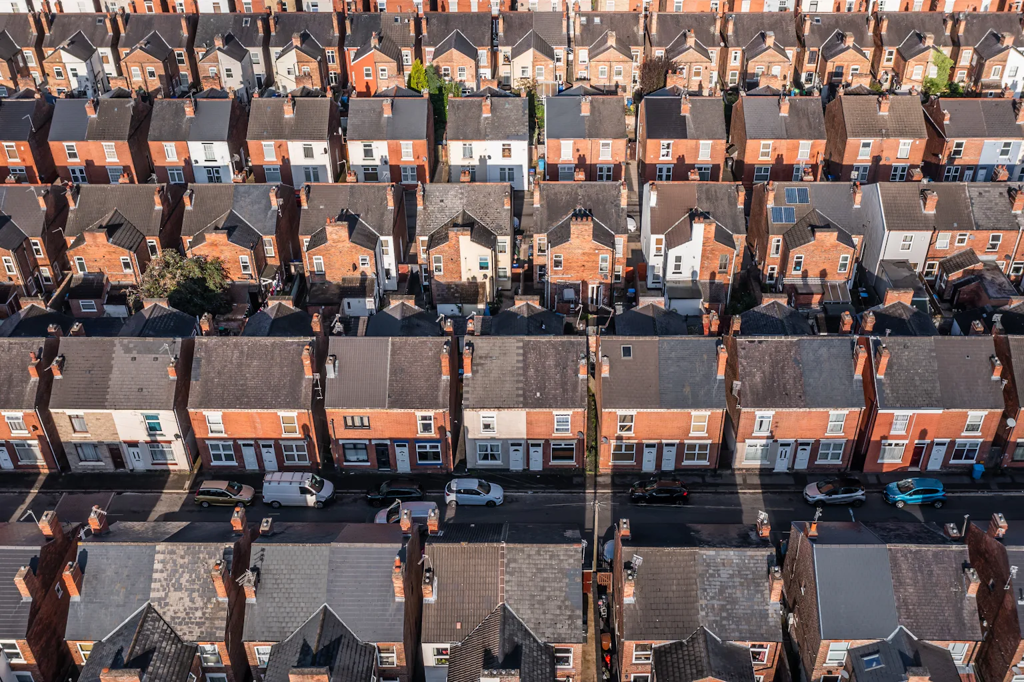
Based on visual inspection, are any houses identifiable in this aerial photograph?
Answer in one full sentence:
Yes, I can see a house in this picture.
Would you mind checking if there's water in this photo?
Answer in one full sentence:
No, the picture contains no water.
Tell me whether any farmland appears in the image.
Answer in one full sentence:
No, there is no farmland in the image.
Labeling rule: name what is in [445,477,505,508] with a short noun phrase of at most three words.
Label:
car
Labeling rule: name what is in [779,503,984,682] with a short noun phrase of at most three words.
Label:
house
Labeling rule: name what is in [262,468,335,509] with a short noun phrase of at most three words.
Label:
van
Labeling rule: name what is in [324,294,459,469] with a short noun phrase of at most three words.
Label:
house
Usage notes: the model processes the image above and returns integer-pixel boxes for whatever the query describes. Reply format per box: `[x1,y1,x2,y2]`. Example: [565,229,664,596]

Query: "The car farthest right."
[882,477,951,509]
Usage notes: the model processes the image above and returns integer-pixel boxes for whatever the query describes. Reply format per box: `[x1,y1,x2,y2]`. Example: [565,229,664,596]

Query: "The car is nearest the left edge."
[198,480,261,509]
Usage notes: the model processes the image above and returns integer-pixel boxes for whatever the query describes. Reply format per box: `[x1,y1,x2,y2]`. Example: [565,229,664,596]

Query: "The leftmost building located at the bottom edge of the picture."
[0,501,86,682]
